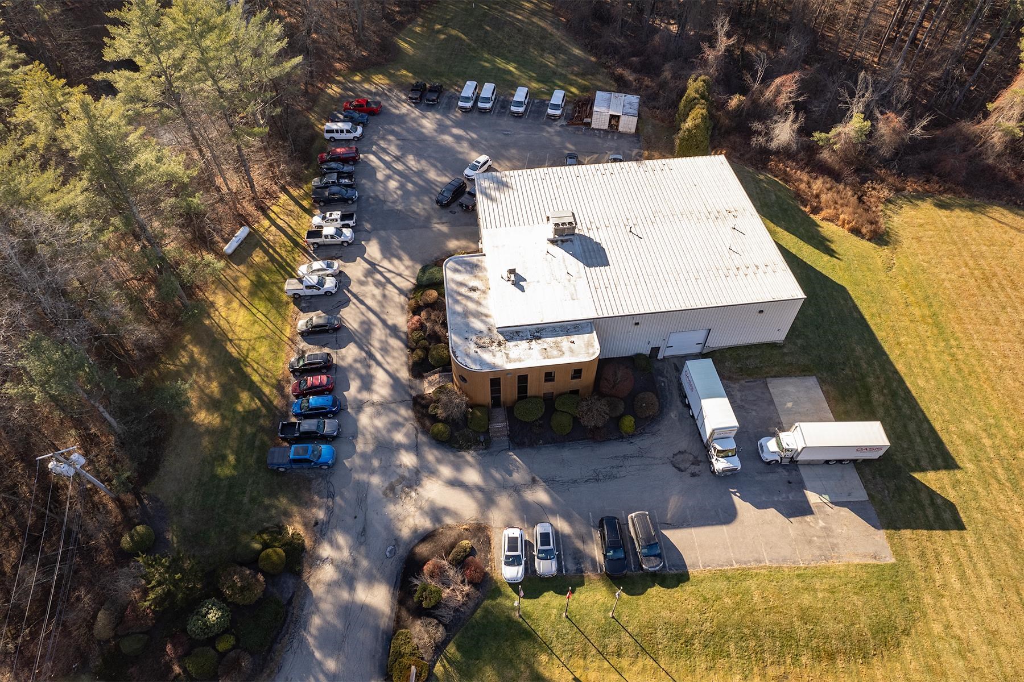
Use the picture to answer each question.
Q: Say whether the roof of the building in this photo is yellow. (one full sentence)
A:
No, from above the roof of the building looks white.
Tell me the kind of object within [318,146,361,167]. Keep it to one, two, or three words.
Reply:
truck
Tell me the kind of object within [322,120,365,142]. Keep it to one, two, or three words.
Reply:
vehicle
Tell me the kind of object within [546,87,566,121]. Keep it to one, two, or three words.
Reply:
vehicle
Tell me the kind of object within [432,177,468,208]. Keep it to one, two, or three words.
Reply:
car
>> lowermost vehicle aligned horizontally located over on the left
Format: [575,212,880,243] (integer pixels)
[265,442,338,472]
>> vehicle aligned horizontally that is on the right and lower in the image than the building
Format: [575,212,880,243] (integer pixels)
[757,421,890,464]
